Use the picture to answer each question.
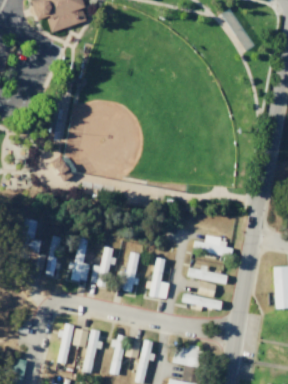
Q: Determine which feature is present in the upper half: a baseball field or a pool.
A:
baseball field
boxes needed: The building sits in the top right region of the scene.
[224,10,254,50]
